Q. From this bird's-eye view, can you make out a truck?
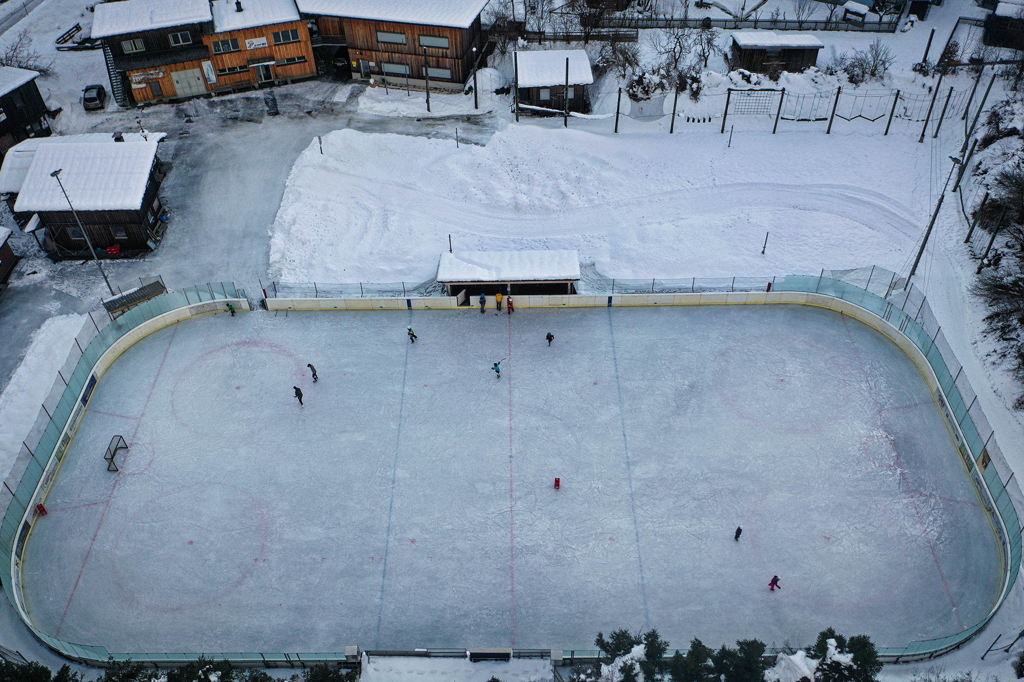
No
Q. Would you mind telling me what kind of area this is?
sports ground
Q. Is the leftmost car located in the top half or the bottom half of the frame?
top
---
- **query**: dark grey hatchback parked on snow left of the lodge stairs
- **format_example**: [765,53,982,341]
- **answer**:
[80,84,107,108]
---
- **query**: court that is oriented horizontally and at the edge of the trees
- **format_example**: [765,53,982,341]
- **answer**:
[11,307,1010,676]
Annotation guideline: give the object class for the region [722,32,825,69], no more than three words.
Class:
shed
